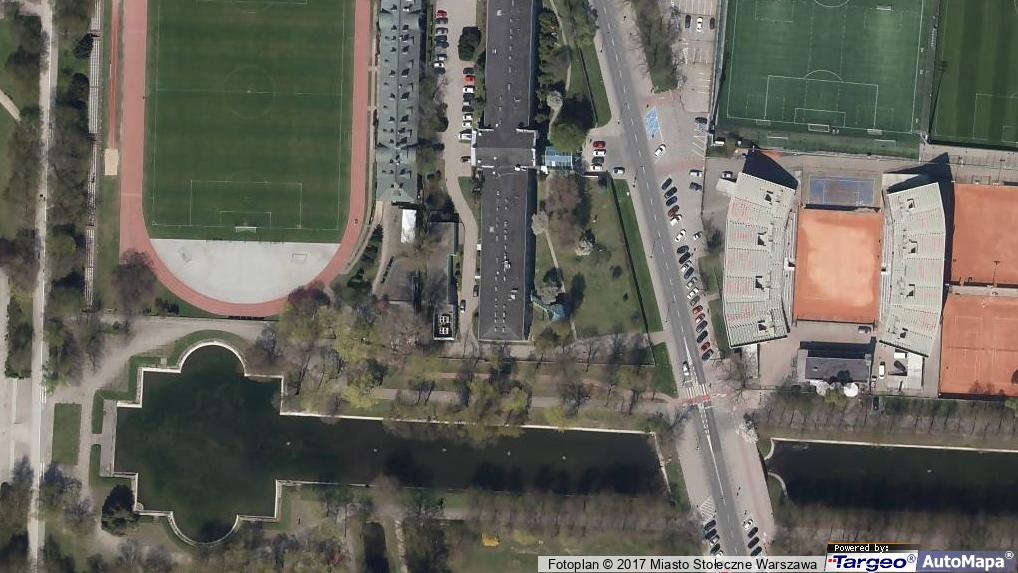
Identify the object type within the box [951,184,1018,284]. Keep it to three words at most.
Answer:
tennis court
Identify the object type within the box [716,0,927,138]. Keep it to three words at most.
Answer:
soccer field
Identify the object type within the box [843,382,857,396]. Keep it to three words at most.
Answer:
umbrella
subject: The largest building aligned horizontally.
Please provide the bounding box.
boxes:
[795,350,872,383]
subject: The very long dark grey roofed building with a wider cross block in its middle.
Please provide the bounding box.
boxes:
[470,0,537,342]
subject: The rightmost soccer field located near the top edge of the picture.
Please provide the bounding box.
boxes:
[933,0,1018,145]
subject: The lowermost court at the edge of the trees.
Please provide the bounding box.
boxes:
[939,295,1018,396]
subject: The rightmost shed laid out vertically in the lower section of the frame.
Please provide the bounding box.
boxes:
[907,353,923,388]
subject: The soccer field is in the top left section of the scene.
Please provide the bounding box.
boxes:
[142,0,354,242]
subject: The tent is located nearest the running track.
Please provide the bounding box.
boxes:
[402,210,417,243]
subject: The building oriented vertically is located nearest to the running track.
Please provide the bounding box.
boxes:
[376,0,422,203]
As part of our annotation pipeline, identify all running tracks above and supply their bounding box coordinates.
[119,0,369,316]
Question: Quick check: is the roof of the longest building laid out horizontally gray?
Yes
